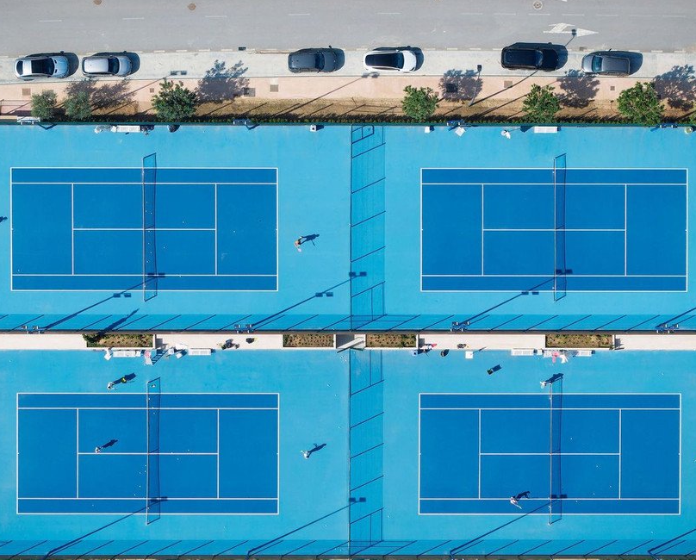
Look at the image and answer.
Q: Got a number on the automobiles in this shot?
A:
6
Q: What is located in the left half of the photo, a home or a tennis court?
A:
tennis court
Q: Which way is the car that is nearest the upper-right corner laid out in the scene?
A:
from side to side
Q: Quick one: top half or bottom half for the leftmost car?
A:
top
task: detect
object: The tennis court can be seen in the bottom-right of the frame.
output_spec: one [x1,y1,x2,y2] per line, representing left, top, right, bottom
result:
[349,350,696,555]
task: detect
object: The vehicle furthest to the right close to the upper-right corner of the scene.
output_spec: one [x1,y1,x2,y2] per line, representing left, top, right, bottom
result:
[582,50,632,74]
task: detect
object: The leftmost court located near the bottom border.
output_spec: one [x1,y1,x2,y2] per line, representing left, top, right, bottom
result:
[0,350,349,555]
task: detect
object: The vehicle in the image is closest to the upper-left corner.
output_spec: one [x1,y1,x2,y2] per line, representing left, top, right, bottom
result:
[15,54,68,78]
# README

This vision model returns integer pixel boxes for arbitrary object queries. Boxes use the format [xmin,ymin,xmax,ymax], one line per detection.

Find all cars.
[83,52,128,76]
[502,43,558,70]
[582,50,632,74]
[288,46,336,72]
[364,47,416,72]
[15,54,68,78]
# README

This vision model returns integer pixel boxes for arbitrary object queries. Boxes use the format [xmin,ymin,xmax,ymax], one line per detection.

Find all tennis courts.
[349,350,696,555]
[0,124,351,331]
[352,124,696,331]
[0,350,349,555]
